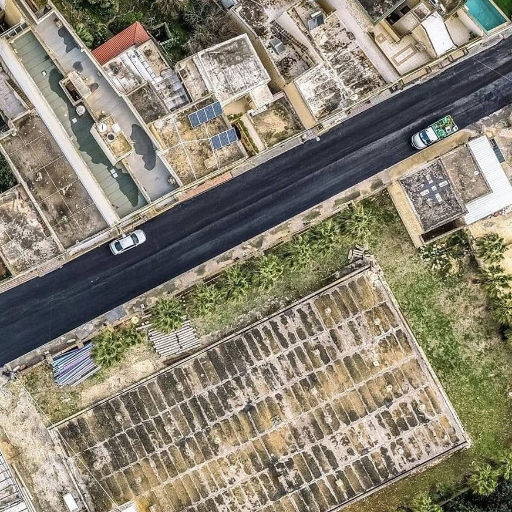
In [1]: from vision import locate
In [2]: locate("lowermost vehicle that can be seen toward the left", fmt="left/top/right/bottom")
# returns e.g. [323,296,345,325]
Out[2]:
[110,228,146,255]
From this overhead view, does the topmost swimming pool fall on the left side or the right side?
right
